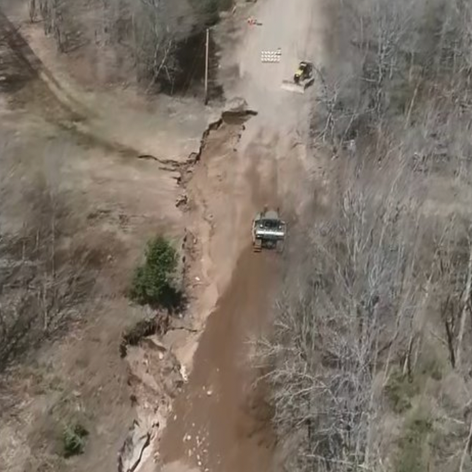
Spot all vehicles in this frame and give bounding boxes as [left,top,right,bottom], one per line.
[286,59,319,93]
[252,205,285,250]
